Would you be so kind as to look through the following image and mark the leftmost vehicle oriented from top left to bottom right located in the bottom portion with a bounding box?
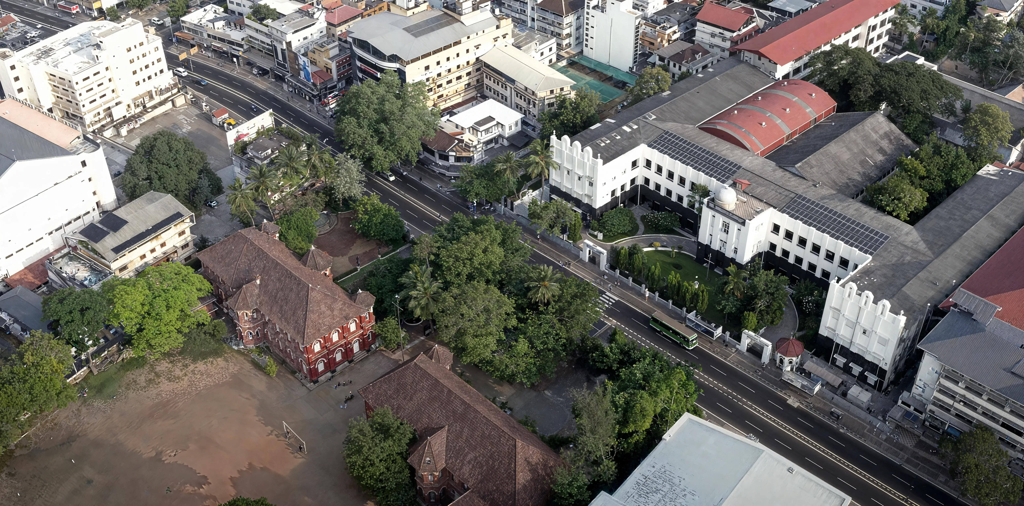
[650,311,699,348]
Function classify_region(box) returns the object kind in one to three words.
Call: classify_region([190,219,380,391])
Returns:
building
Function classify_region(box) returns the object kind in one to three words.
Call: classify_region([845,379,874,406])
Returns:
building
